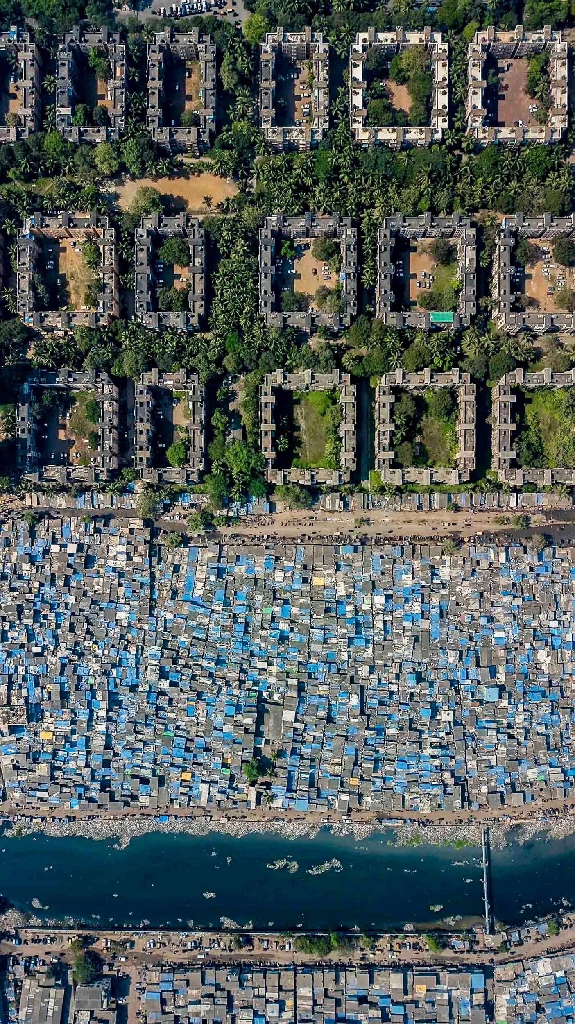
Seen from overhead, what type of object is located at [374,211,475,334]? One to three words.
building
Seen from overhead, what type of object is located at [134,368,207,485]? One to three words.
building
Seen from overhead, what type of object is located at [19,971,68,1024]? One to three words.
shed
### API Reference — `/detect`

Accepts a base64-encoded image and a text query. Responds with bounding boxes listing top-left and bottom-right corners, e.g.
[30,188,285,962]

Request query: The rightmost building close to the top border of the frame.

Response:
[462,25,566,154]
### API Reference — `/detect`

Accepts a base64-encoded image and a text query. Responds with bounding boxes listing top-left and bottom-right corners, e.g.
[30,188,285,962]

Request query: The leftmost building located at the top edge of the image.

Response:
[0,25,44,156]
